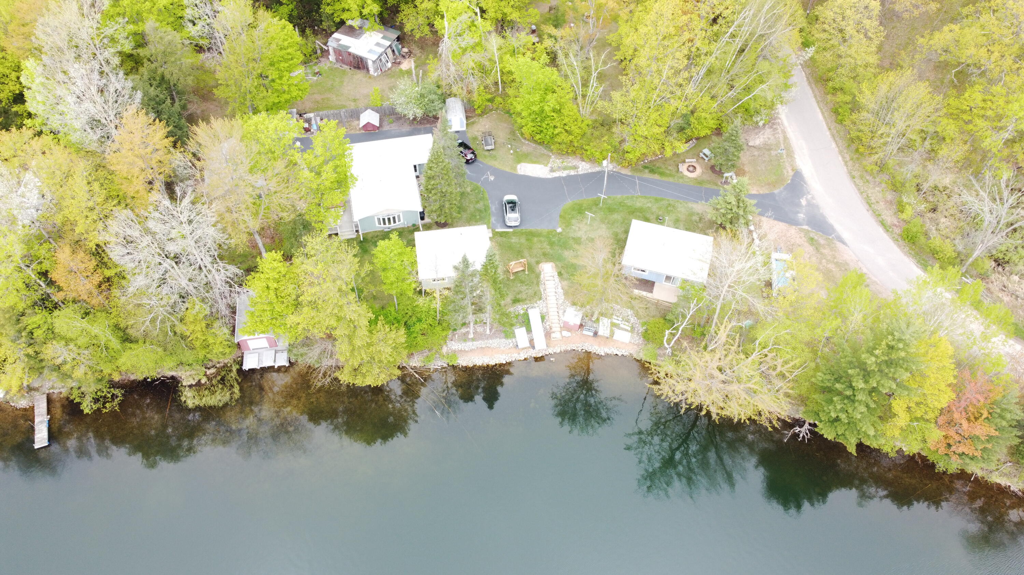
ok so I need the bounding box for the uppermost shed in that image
[325,17,402,75]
